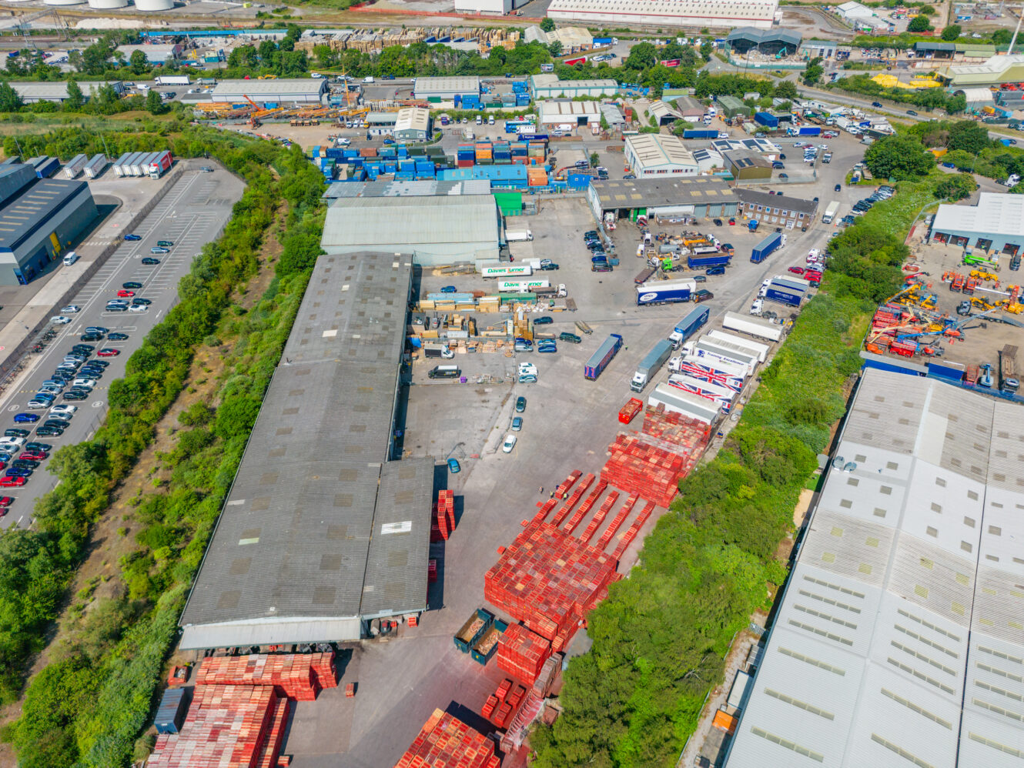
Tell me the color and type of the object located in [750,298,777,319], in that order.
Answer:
white truck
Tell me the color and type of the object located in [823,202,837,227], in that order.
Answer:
white vehicle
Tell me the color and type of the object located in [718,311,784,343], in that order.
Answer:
white trailer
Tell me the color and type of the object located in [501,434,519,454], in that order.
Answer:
white car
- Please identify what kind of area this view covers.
industrial area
